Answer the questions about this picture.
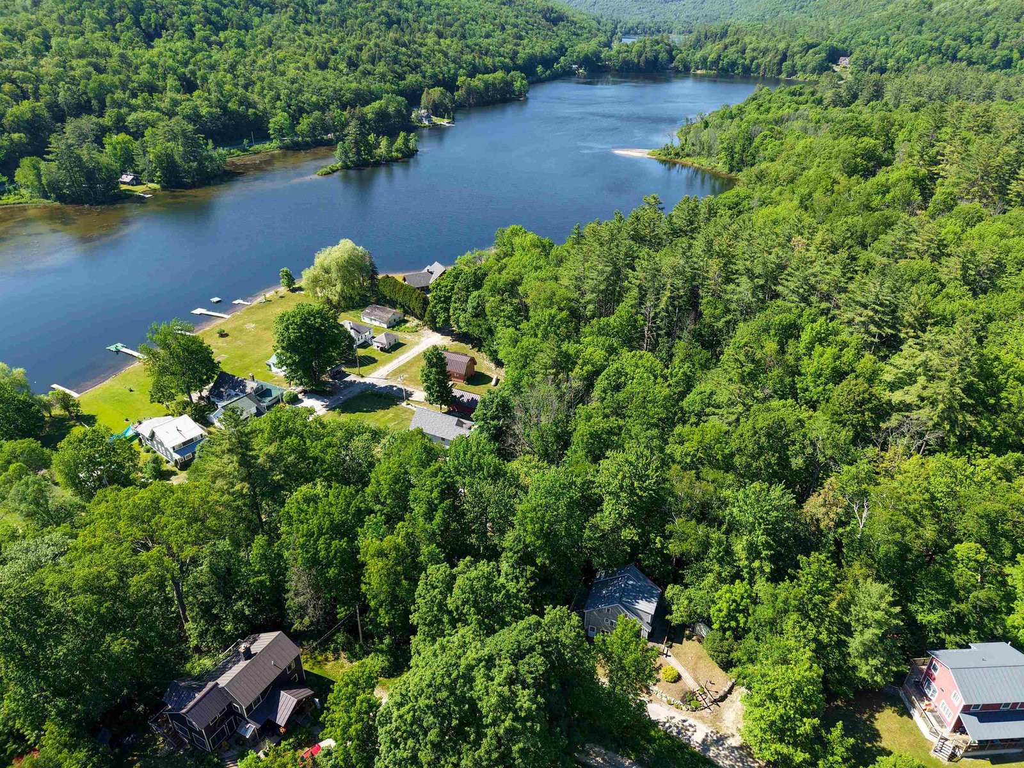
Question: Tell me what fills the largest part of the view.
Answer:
trees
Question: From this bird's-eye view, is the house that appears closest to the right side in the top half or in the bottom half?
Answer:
bottom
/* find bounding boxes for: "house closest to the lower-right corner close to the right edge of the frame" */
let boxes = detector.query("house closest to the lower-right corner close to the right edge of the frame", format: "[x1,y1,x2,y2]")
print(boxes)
[895,639,1024,761]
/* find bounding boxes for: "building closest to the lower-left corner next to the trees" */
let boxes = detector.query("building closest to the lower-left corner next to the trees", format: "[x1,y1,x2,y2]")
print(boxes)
[143,631,315,758]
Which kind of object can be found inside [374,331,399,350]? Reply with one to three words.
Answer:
shed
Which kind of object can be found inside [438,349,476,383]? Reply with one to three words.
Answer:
barn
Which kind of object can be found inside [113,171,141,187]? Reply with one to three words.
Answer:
building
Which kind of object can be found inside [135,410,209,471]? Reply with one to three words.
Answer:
house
